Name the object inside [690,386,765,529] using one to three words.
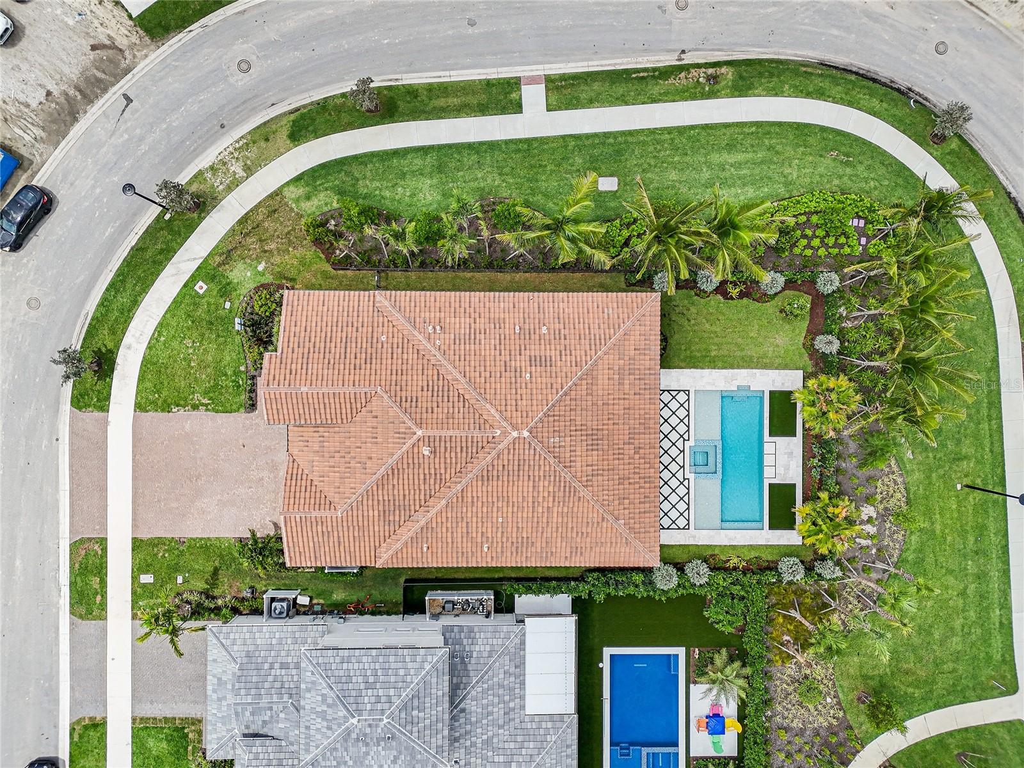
swimming pool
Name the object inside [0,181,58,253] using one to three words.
car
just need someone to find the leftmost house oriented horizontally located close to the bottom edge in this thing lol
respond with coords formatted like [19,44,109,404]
[204,613,580,768]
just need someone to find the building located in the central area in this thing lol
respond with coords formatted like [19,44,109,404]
[258,290,662,570]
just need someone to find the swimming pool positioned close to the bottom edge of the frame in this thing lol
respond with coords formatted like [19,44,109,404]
[603,646,686,768]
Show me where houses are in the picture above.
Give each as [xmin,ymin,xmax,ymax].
[204,613,580,768]
[258,290,662,570]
